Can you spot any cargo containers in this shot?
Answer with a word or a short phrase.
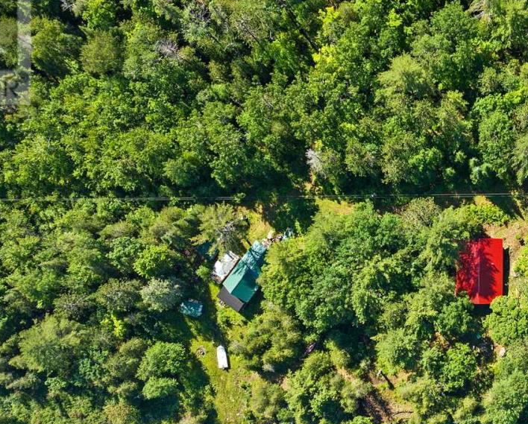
No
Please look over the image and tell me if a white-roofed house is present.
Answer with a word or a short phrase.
No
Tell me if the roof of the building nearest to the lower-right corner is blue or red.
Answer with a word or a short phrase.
red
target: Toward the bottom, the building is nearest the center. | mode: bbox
[216,234,277,312]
